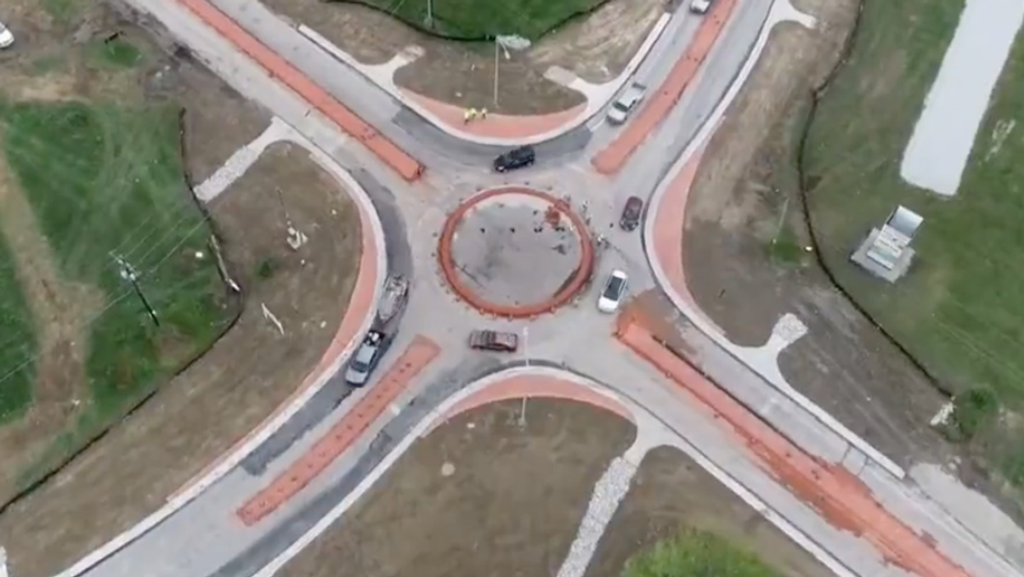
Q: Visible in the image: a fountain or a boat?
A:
boat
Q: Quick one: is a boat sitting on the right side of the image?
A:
No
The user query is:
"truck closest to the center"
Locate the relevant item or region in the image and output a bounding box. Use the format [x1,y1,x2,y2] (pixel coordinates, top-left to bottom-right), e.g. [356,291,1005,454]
[467,331,521,355]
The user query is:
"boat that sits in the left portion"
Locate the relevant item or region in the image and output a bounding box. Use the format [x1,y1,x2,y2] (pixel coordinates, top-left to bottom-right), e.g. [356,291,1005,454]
[374,273,408,324]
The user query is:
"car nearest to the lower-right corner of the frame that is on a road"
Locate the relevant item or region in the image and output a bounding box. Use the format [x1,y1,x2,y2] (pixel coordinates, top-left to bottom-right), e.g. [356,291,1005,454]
[600,269,627,311]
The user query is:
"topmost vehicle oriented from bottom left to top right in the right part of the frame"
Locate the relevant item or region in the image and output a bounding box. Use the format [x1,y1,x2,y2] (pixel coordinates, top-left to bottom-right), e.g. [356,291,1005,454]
[611,78,651,124]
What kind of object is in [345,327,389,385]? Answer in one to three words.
truck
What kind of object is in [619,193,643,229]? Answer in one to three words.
car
